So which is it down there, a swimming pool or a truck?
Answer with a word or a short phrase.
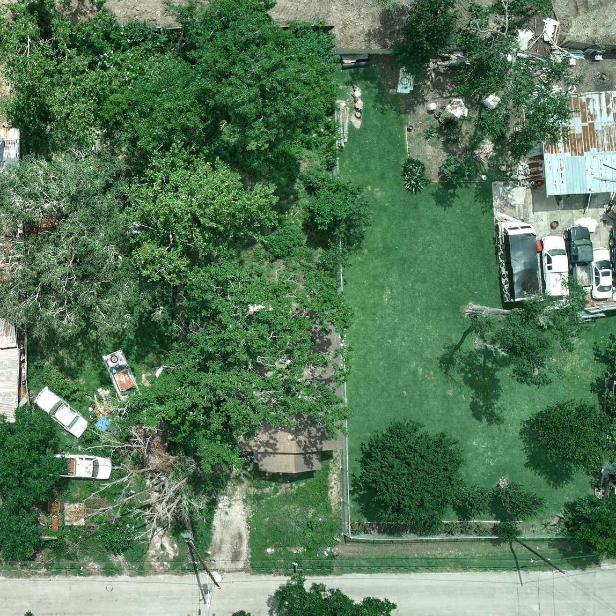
truck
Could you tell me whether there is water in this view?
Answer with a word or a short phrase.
No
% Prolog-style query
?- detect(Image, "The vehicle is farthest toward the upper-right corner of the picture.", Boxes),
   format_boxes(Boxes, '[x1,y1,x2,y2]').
[598,194,616,237]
